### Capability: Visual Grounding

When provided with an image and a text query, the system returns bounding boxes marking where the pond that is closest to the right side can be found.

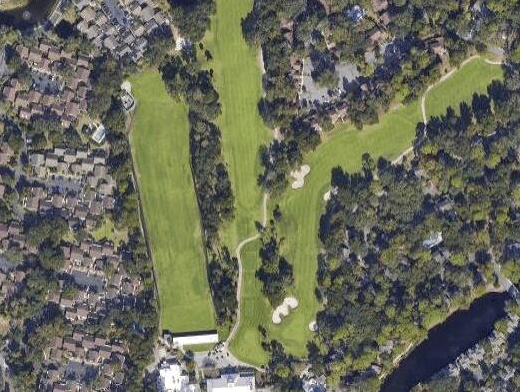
[381,291,512,392]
